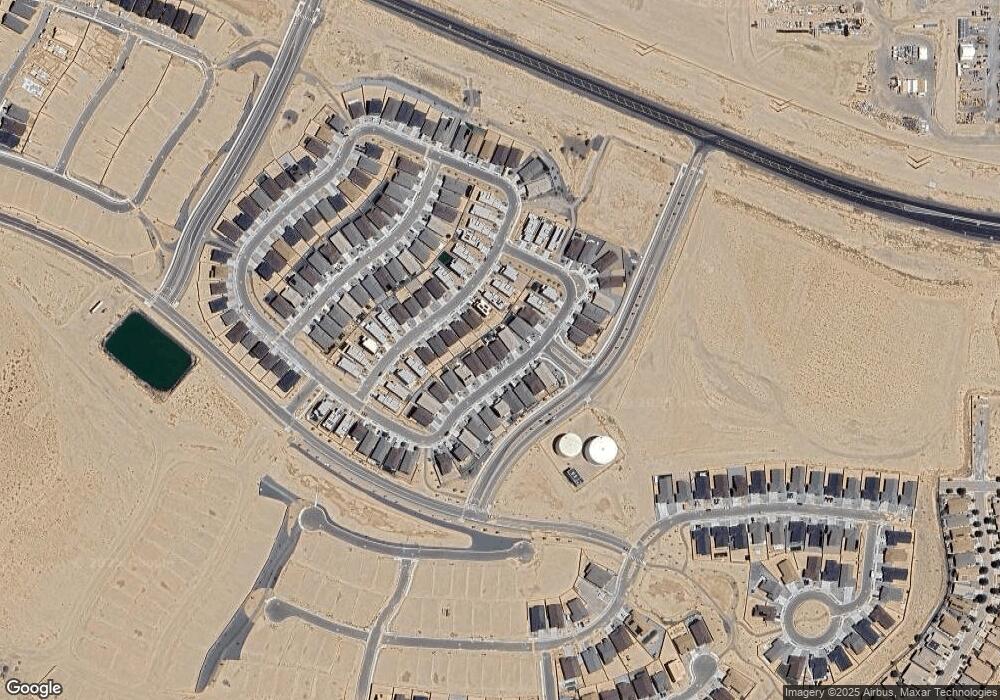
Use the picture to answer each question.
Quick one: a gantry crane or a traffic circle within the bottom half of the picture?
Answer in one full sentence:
The one visible within the bottom half of the picture is a traffic circle.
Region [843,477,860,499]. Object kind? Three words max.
house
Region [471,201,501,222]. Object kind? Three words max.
house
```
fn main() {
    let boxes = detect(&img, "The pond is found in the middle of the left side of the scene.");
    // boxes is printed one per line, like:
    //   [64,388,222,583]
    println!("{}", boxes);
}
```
[100,305,197,395]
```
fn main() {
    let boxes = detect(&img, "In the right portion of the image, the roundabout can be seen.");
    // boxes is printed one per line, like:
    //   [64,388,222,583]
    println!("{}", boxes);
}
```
[785,590,838,646]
